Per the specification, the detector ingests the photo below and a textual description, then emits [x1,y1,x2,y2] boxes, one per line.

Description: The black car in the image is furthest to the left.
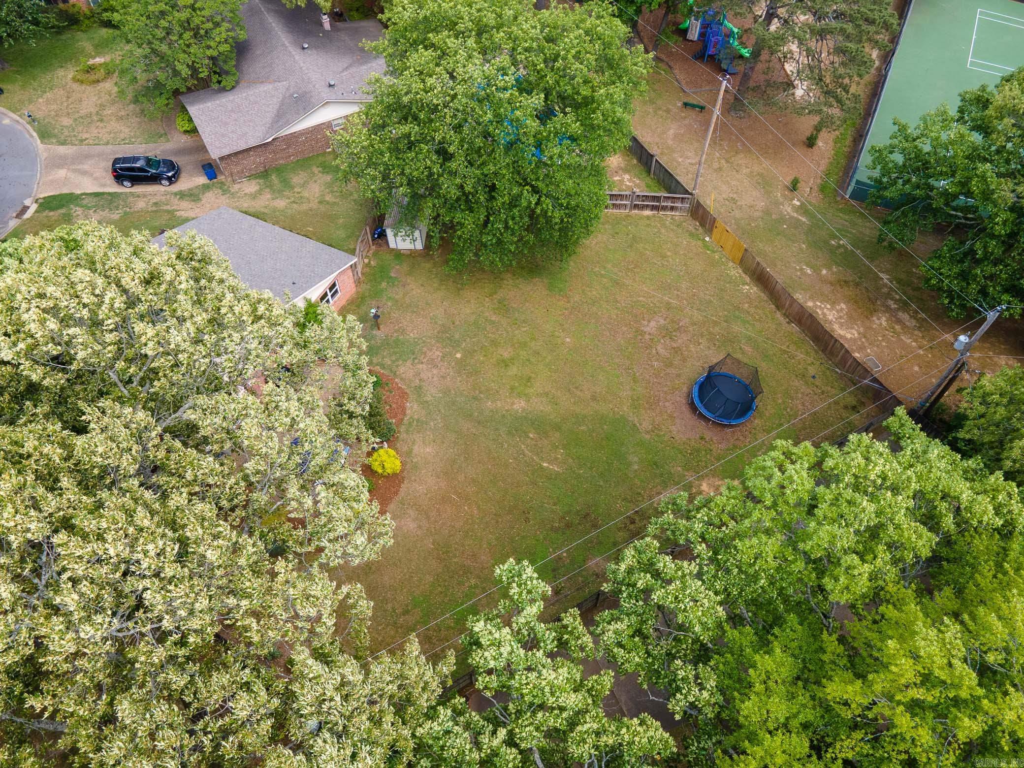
[110,155,183,189]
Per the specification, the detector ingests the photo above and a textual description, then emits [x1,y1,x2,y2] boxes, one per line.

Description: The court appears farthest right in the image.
[849,0,1024,205]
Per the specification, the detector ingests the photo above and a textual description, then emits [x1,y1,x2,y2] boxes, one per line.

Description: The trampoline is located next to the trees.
[686,358,758,436]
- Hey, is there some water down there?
No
